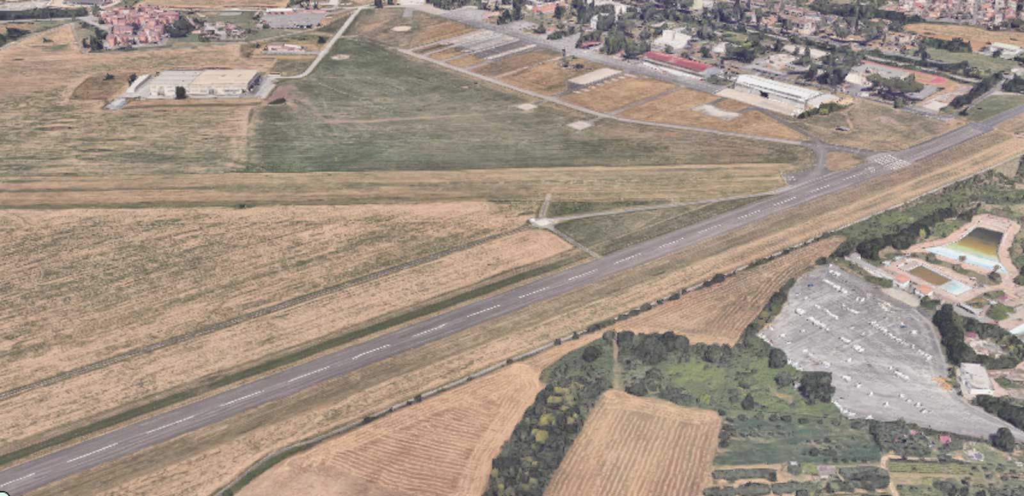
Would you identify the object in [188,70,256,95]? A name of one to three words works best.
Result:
building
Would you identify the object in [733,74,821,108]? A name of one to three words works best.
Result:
hangar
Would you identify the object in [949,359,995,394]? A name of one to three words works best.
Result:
building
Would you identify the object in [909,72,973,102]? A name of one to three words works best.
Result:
sports field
